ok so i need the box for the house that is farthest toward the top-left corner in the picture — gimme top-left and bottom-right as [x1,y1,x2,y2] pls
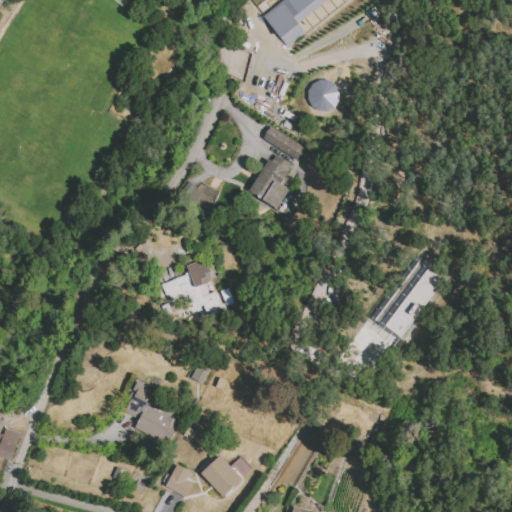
[183,180,220,206]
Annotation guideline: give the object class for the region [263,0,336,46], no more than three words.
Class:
building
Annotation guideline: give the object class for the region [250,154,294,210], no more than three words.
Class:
house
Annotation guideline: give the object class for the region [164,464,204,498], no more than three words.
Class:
house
